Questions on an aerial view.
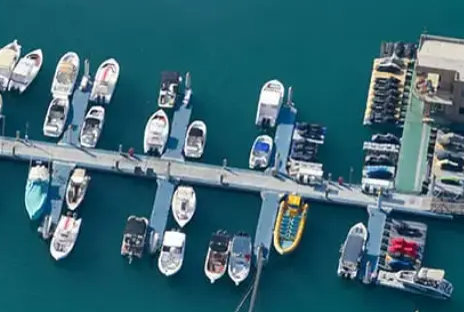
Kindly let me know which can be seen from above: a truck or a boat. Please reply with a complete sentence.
Of the two, only a boat appears.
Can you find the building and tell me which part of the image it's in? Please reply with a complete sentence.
The building appears toward the top right of the photo.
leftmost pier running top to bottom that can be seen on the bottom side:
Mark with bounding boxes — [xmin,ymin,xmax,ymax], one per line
[41,164,73,237]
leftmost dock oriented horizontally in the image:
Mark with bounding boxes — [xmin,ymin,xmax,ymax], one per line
[0,137,434,214]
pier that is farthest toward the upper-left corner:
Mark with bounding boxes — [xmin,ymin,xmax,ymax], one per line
[55,80,91,146]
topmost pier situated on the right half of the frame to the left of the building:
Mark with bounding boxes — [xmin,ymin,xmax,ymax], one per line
[266,102,298,173]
